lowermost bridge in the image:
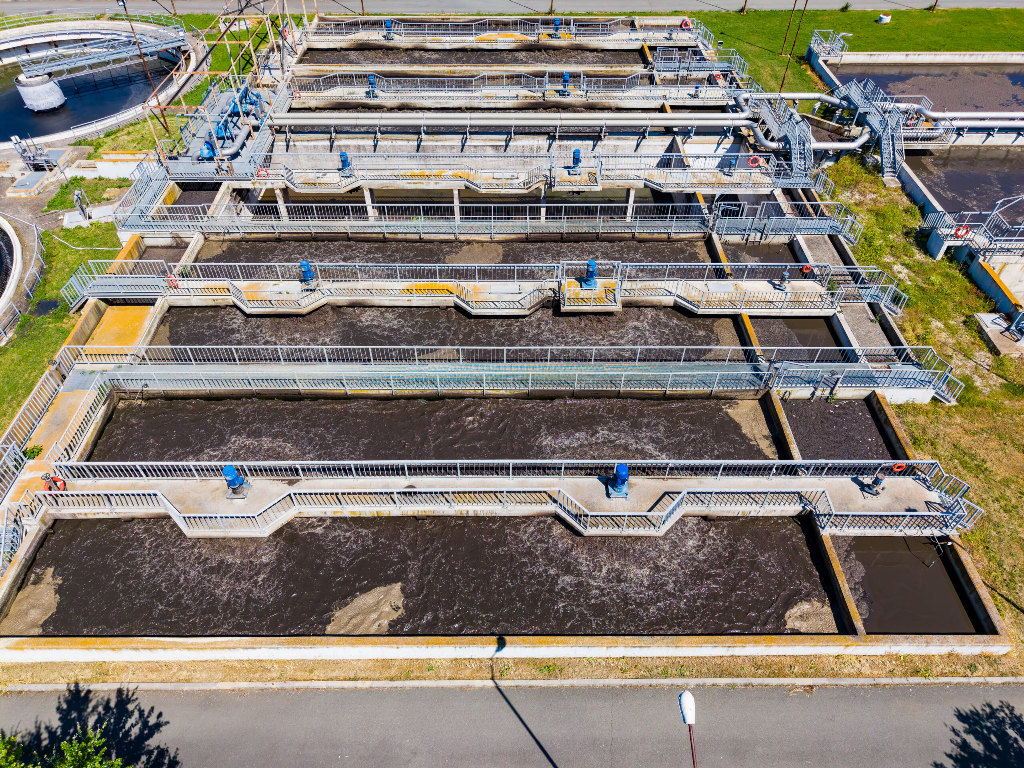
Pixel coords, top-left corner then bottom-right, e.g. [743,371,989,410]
[31,477,960,542]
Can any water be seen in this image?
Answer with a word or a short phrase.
Yes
